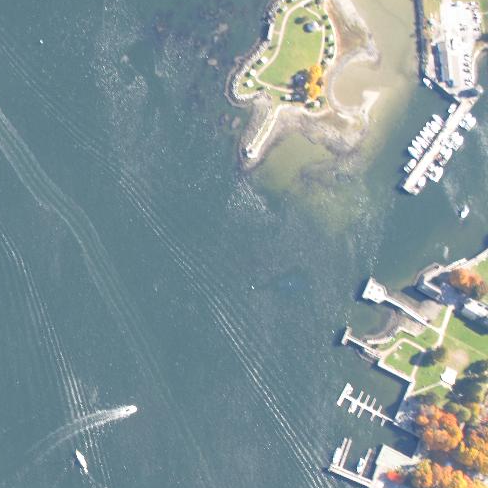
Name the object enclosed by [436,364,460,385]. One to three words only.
building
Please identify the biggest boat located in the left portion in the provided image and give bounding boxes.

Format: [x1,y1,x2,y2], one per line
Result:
[75,450,89,474]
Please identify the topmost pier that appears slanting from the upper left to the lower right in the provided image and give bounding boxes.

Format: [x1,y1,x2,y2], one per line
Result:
[384,293,442,332]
